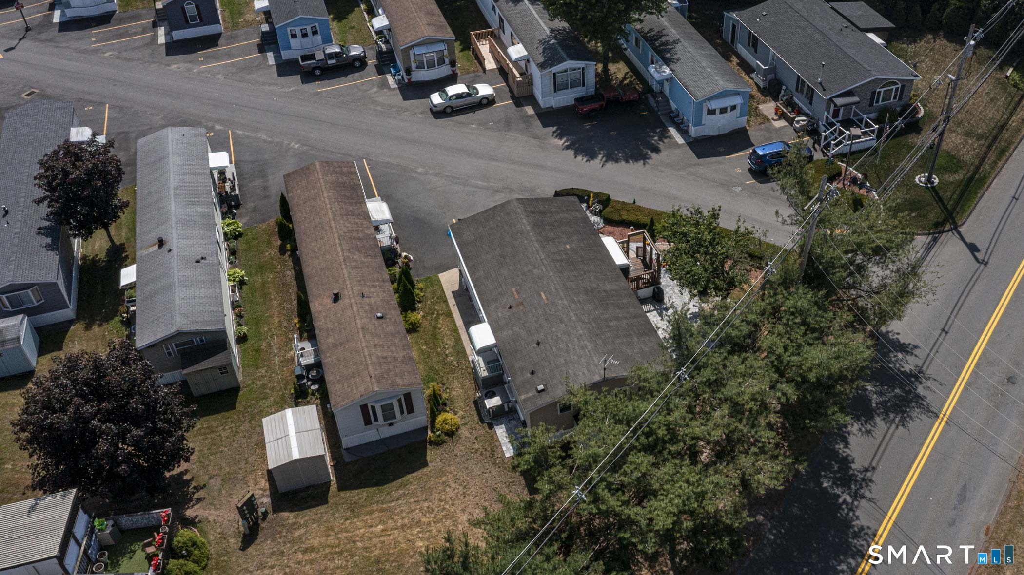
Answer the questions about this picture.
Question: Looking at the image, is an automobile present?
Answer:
Yes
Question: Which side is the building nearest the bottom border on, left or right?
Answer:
left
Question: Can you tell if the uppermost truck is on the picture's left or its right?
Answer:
left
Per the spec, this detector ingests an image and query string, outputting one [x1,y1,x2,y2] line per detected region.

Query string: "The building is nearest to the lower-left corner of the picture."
[0,485,88,575]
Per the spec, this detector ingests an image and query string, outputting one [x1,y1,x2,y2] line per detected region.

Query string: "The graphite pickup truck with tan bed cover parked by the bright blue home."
[300,40,370,73]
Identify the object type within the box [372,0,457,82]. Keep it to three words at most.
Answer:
house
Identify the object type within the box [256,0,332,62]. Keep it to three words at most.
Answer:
house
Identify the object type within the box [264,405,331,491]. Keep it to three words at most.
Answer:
shed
